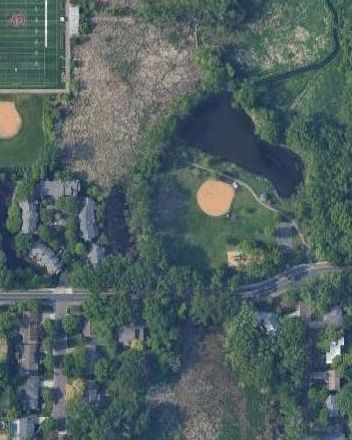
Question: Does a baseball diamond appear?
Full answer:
Yes, I can see a baseball diamond in this picture.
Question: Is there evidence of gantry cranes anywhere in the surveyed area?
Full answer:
No, no gantry crane is visible in the view.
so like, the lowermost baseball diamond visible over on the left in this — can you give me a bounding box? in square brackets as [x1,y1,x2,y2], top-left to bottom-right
[0,94,48,168]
